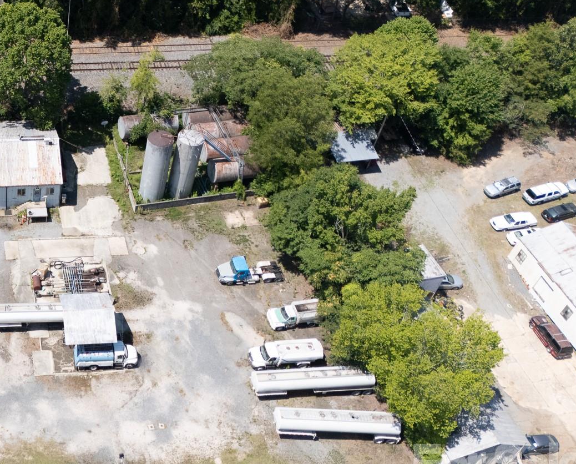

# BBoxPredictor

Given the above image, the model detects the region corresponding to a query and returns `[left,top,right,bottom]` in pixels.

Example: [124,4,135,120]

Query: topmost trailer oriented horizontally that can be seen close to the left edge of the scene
[0,302,63,332]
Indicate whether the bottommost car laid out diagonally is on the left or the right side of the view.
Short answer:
right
